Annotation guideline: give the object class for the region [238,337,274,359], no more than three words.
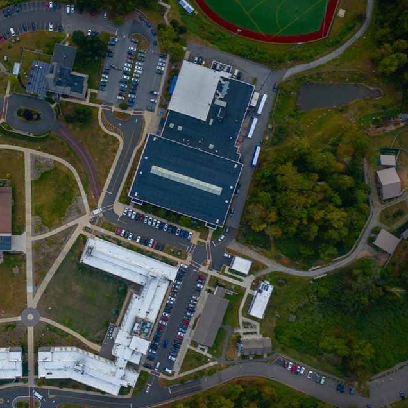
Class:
house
